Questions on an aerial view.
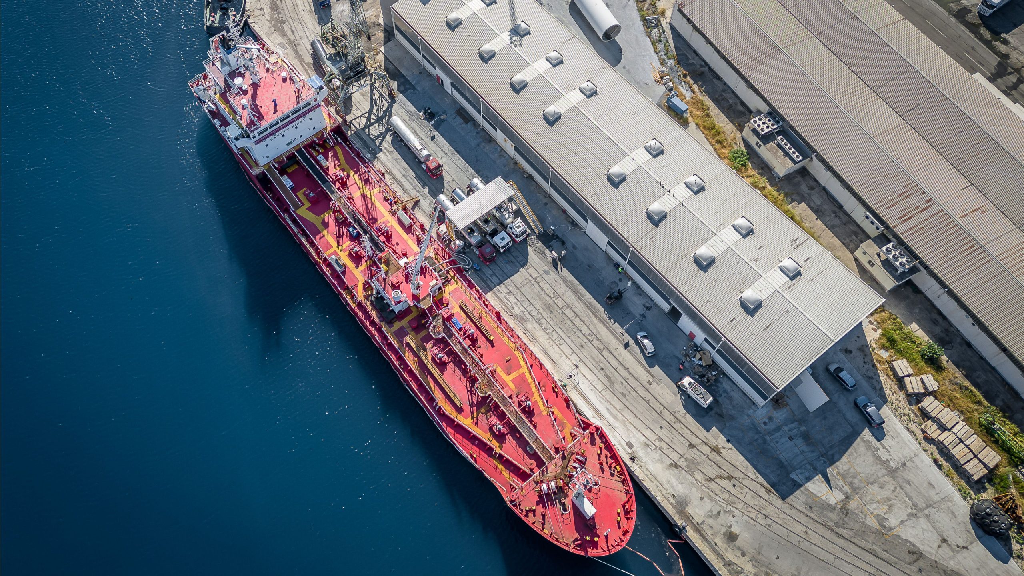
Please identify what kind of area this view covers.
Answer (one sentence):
This image shows a port.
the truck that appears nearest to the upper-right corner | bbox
[979,0,1010,21]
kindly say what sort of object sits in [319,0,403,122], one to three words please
crane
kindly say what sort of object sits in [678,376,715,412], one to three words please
truck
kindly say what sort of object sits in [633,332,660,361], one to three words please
car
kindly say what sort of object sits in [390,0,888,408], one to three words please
warehouse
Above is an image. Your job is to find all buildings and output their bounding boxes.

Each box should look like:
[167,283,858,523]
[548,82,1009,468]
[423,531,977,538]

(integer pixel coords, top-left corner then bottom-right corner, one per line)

[390,0,888,408]
[669,0,1024,399]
